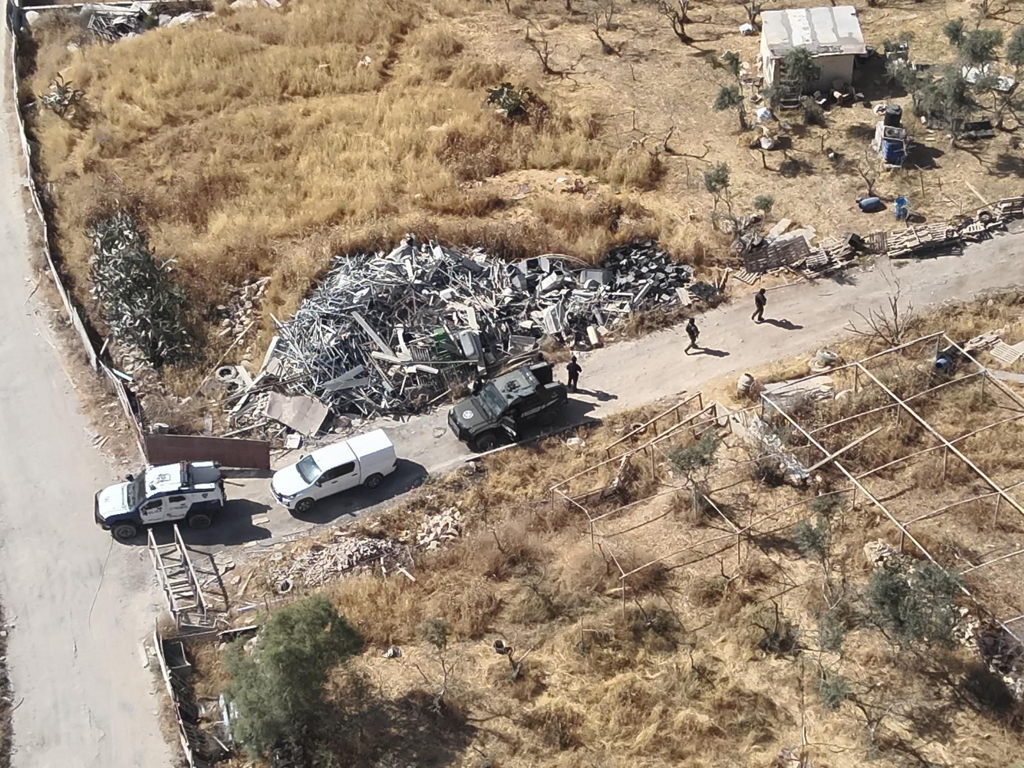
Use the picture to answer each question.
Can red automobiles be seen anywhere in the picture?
No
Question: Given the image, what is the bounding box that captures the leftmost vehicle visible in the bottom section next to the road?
[89,456,226,542]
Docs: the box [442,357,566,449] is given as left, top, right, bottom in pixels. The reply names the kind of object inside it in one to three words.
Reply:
car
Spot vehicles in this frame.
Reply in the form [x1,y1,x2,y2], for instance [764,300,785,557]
[442,357,566,449]
[89,456,226,542]
[262,421,401,515]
